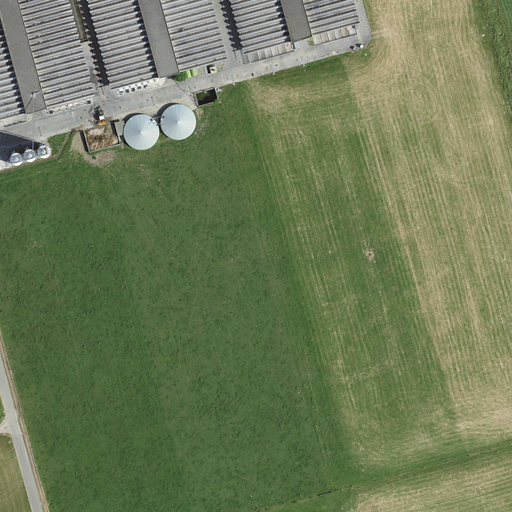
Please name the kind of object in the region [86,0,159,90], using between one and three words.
barn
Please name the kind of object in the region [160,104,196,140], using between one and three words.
storage tank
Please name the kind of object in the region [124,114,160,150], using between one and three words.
storage tank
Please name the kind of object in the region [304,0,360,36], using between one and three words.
barn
